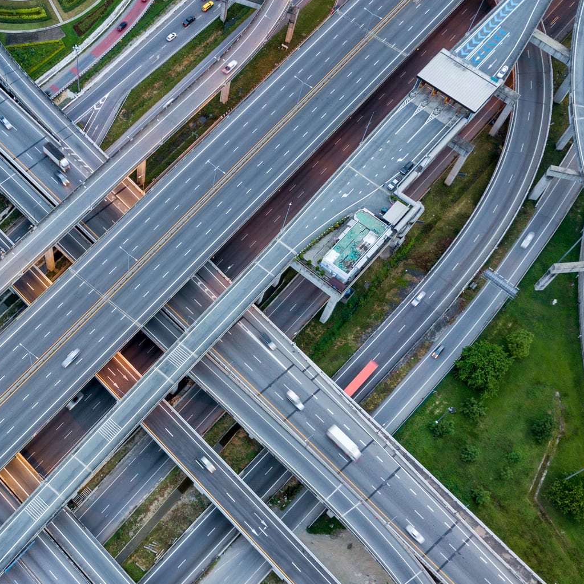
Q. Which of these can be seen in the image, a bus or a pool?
bus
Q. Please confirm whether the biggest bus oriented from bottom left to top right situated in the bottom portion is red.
Yes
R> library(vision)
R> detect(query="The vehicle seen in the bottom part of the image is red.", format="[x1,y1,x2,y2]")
[342,352,385,395]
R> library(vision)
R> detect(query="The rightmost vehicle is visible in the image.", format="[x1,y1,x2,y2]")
[522,228,537,246]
